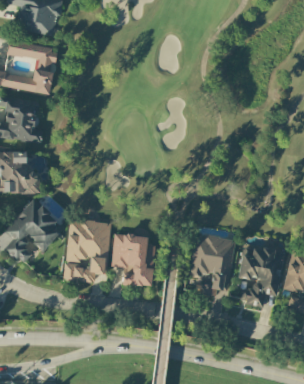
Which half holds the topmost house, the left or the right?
left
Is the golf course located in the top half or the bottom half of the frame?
top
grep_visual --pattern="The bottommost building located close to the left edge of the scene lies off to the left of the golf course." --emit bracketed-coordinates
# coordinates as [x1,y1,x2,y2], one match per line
[0,198,61,263]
